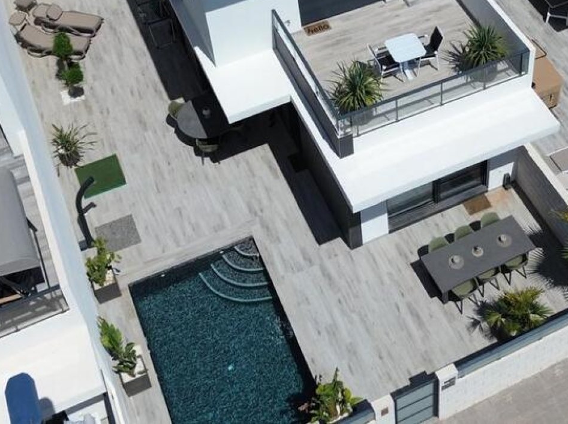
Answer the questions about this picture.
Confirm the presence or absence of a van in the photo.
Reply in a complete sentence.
No, the picture doesn't show any van.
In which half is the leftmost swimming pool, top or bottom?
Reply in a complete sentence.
The leftmost swimming pool is in the bottom half of the image.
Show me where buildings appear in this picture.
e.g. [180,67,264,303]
[0,0,120,424]
[160,0,560,250]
